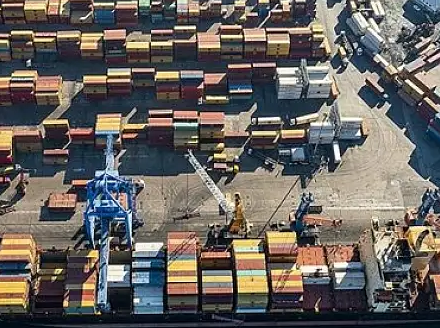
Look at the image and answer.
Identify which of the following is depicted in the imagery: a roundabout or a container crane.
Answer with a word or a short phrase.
container crane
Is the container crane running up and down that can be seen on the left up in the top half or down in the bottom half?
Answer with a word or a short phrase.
bottom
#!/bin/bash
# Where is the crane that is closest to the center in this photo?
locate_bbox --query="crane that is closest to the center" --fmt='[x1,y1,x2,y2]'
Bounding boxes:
[173,147,259,241]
